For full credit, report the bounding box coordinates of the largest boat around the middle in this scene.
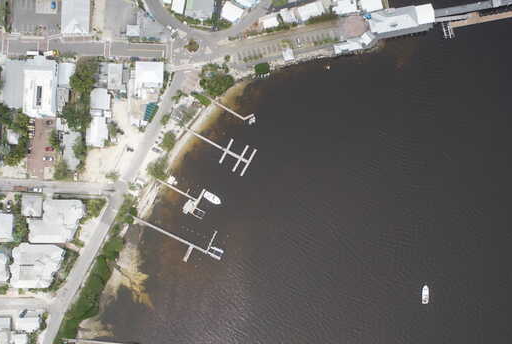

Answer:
[204,190,220,203]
